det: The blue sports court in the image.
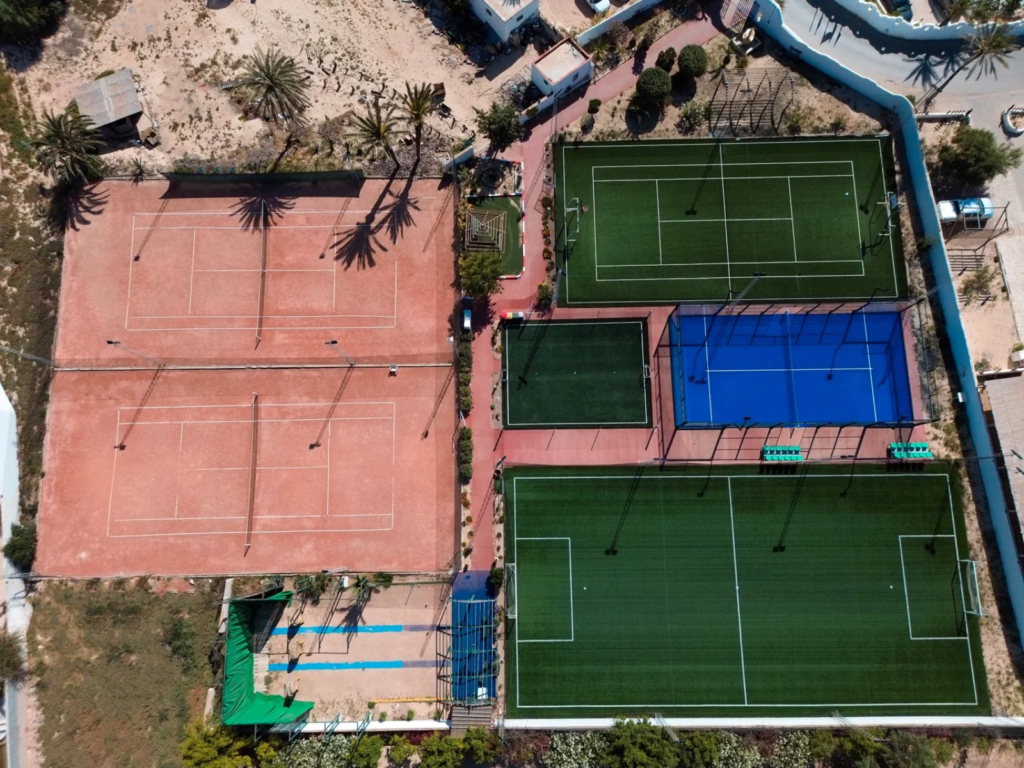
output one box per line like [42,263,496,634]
[671,311,913,429]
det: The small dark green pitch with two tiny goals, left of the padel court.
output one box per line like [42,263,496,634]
[501,317,653,429]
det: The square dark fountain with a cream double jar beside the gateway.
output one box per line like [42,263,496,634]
[725,23,765,59]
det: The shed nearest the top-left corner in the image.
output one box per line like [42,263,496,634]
[73,67,150,138]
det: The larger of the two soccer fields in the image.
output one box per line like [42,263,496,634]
[505,462,990,717]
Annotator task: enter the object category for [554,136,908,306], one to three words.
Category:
sports court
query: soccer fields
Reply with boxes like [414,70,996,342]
[501,317,653,429]
[505,462,990,717]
